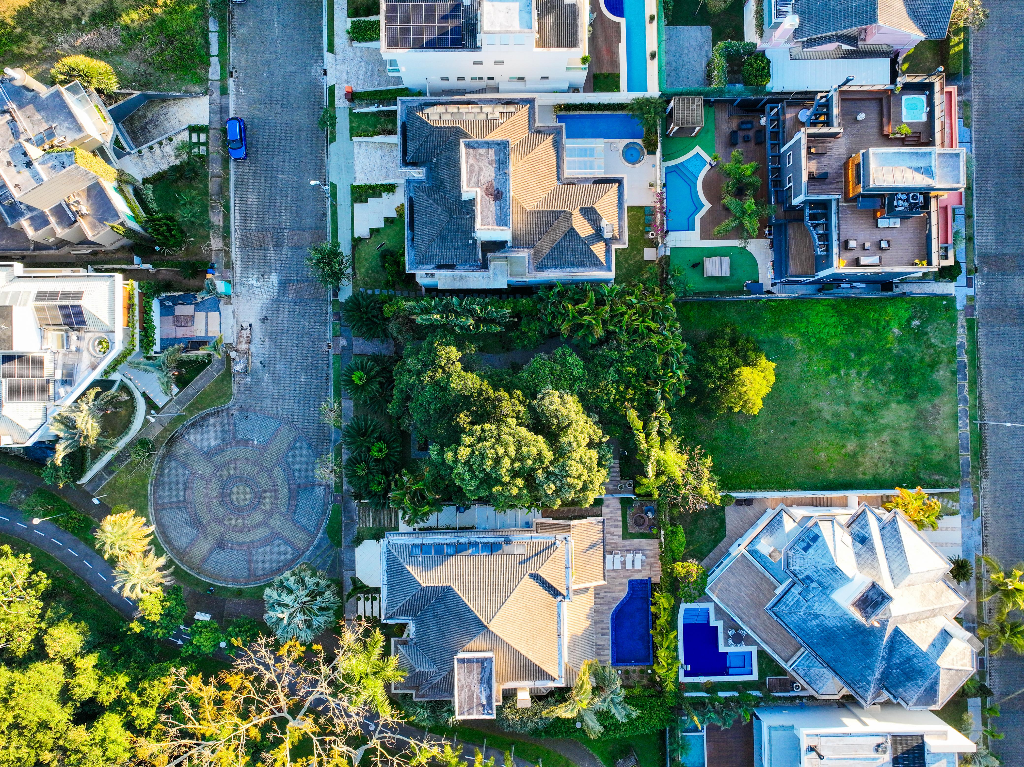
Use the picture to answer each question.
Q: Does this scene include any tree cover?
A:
Yes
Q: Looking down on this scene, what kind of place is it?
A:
residential area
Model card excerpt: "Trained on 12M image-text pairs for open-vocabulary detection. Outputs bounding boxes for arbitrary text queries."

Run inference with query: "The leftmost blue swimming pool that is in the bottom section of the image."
[609,577,654,667]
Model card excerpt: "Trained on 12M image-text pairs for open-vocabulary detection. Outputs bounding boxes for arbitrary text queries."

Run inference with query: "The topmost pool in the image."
[599,0,647,89]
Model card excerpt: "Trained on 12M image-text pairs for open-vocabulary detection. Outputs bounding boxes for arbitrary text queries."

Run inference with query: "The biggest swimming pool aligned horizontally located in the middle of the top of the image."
[554,111,646,141]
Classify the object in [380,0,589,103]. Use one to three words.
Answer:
house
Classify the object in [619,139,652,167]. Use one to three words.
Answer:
swimming pool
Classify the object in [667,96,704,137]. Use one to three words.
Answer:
gazebo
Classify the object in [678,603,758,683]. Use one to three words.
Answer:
swimming pool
